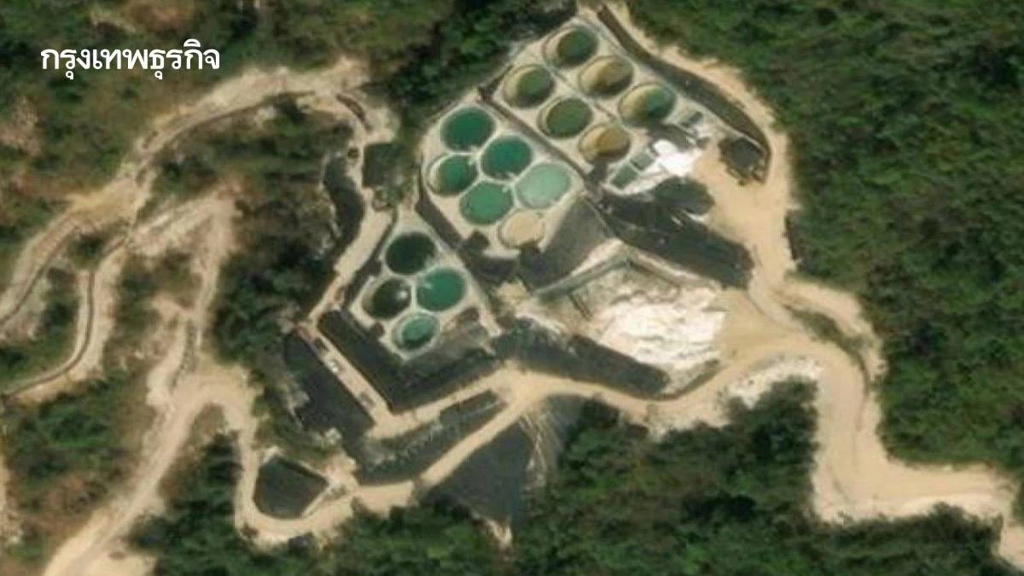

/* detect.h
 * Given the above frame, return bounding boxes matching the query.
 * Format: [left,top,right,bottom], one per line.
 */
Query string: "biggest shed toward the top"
[653,115,691,153]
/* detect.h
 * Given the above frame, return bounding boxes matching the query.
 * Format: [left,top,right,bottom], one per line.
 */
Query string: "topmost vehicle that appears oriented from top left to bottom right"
[313,336,326,352]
